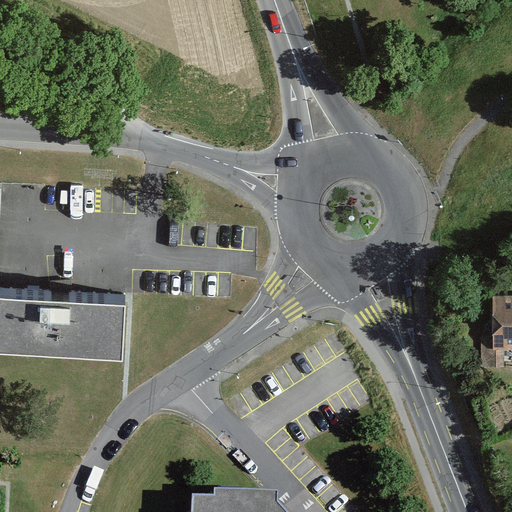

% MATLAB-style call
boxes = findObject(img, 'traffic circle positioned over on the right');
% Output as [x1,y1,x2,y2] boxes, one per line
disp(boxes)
[275,132,428,304]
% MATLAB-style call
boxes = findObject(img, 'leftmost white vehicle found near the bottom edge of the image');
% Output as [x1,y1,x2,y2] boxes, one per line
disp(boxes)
[83,466,104,501]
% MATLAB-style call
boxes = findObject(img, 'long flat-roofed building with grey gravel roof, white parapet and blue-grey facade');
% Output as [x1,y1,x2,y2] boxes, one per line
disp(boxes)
[0,287,126,362]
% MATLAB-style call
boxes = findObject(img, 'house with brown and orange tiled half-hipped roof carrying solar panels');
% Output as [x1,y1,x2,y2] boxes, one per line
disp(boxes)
[481,294,512,367]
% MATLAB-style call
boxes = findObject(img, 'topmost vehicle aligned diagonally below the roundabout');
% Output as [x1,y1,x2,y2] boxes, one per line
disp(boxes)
[295,352,313,374]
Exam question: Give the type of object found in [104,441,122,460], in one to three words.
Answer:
car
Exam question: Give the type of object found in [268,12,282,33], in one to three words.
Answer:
vehicle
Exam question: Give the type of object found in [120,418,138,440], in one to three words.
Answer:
car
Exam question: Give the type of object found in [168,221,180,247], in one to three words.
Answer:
vehicle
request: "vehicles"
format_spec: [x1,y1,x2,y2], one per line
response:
[232,224,243,248]
[84,189,95,213]
[104,441,122,460]
[276,157,298,168]
[252,380,271,402]
[196,226,206,246]
[182,270,194,292]
[170,275,181,294]
[46,186,56,204]
[83,466,104,501]
[145,270,156,292]
[311,476,332,494]
[268,12,282,33]
[206,275,218,296]
[289,422,306,442]
[311,411,329,433]
[120,418,138,440]
[294,118,304,140]
[295,352,313,374]
[168,221,180,247]
[264,375,282,396]
[321,405,338,426]
[70,184,84,218]
[62,250,74,276]
[231,446,257,472]
[158,272,168,293]
[58,187,68,210]
[220,224,230,247]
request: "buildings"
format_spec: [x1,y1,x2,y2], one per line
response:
[481,294,512,367]
[190,486,294,512]
[0,287,126,362]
